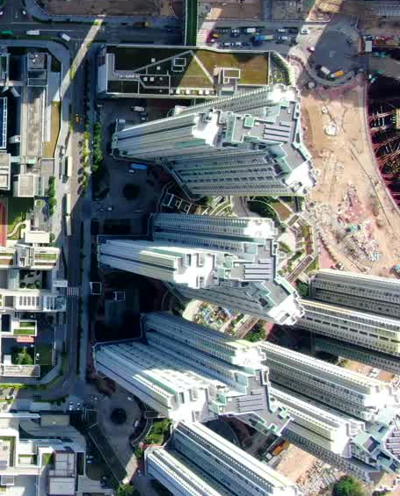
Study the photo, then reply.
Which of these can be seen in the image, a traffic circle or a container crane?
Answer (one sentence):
The one in the frame is a traffic circle.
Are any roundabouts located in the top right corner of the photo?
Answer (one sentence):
Yes, a roundabout shows up in the top right corner of the photo.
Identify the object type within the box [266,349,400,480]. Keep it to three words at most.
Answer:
building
